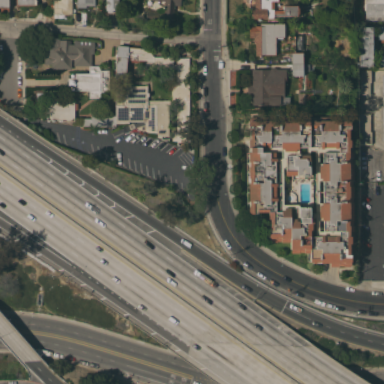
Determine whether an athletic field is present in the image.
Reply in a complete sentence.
No, there is no athletic field in the image.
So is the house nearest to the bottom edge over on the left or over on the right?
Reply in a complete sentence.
You can find the house nearest to the bottom edge on the right side of the picture.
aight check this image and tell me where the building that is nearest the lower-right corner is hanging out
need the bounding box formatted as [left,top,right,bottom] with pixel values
[312,236,354,266]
